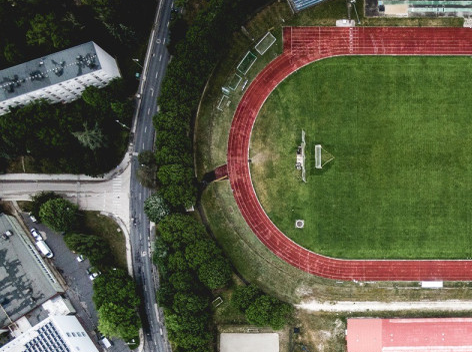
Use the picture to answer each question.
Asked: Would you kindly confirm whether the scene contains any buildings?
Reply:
Yes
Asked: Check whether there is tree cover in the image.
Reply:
Yes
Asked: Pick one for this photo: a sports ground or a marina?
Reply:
sports ground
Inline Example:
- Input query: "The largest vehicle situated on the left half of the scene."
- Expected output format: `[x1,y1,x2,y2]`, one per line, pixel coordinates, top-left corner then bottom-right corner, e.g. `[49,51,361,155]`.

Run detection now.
[32,239,53,260]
